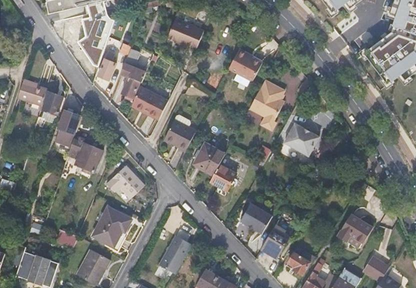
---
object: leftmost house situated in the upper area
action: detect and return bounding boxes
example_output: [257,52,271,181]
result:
[18,79,48,116]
